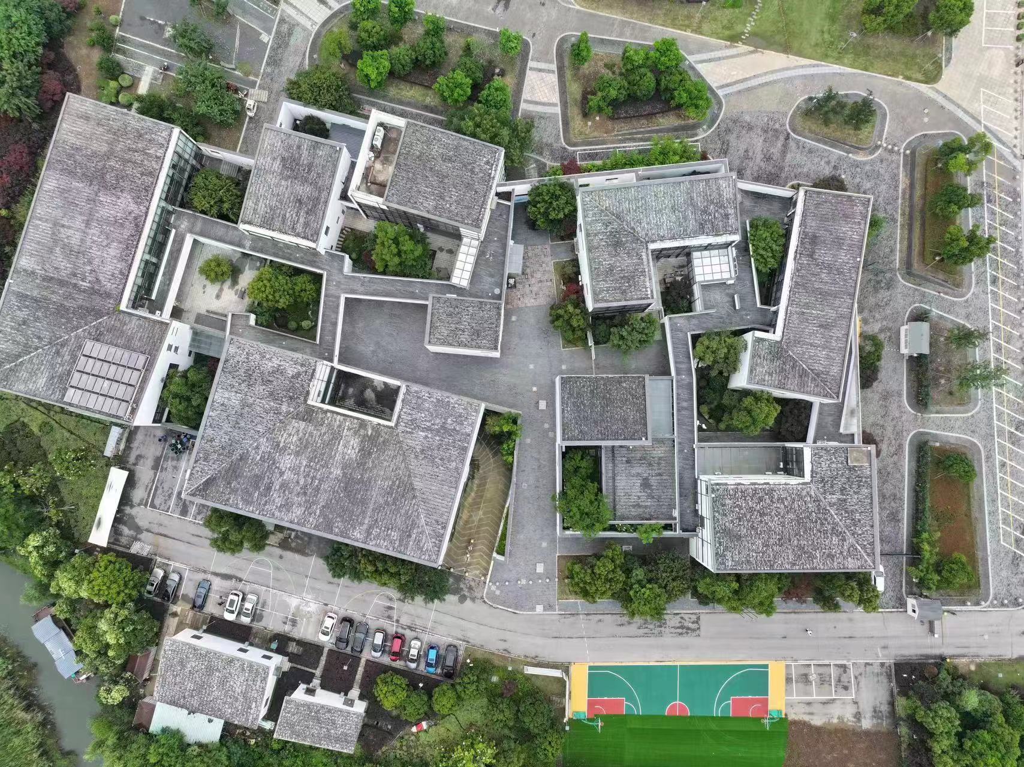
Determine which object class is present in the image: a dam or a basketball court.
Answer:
basketball court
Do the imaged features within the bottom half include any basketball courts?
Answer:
Yes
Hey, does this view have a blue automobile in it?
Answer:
Yes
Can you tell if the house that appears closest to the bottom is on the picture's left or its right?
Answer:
left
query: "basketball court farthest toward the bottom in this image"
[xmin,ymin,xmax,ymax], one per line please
[588,665,769,716]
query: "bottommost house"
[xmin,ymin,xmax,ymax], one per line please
[274,684,371,754]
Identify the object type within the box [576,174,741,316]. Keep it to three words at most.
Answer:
building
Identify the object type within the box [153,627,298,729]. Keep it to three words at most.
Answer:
house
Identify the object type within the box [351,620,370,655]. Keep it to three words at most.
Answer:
car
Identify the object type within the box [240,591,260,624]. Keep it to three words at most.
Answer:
car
